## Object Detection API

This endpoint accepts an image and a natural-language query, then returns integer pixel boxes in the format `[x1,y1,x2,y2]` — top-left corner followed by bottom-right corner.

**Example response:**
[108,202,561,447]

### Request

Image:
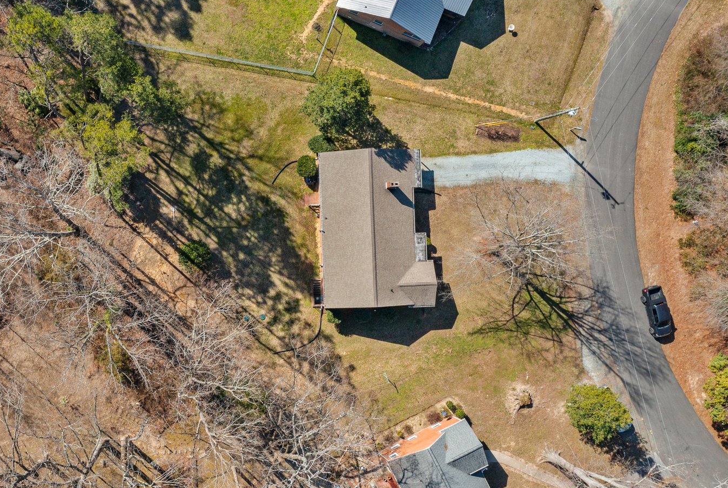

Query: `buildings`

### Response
[315,149,437,309]
[381,415,494,488]
[334,0,472,49]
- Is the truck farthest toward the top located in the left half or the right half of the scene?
right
